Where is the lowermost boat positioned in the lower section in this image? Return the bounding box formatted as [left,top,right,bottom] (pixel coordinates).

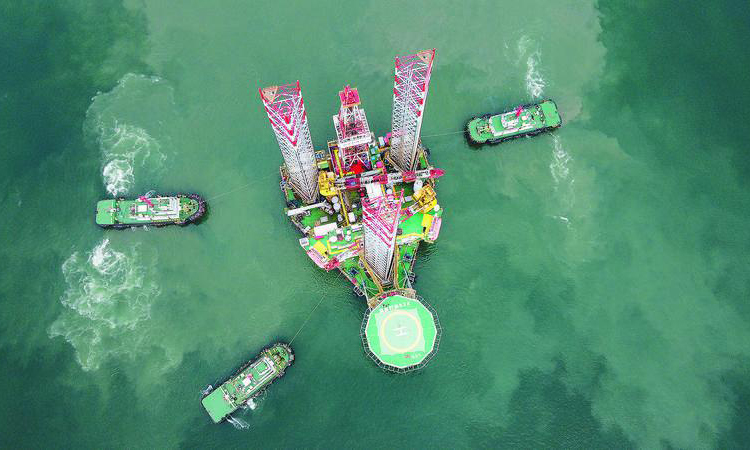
[203,342,294,427]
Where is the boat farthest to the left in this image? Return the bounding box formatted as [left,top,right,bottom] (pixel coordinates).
[95,191,204,229]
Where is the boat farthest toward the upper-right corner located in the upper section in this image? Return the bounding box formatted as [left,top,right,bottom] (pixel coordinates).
[467,100,562,144]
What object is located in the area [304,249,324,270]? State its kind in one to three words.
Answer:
boat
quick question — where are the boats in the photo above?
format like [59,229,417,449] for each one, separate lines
[95,191,204,229]
[304,249,324,270]
[203,342,294,427]
[467,100,562,144]
[434,214,442,240]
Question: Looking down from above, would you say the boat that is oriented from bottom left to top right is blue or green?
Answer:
green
